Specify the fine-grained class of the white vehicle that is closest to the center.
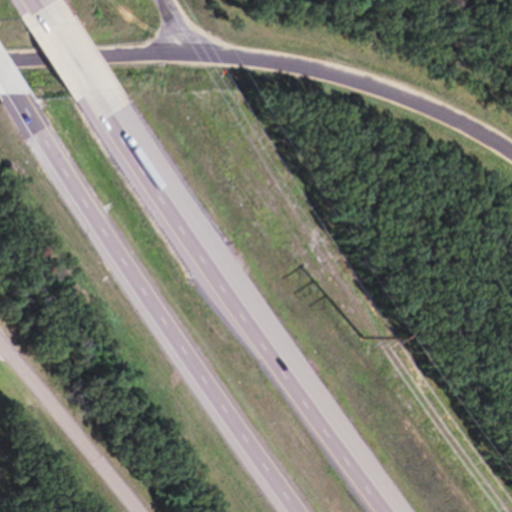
truck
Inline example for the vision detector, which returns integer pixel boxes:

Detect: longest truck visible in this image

[120,133,168,192]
